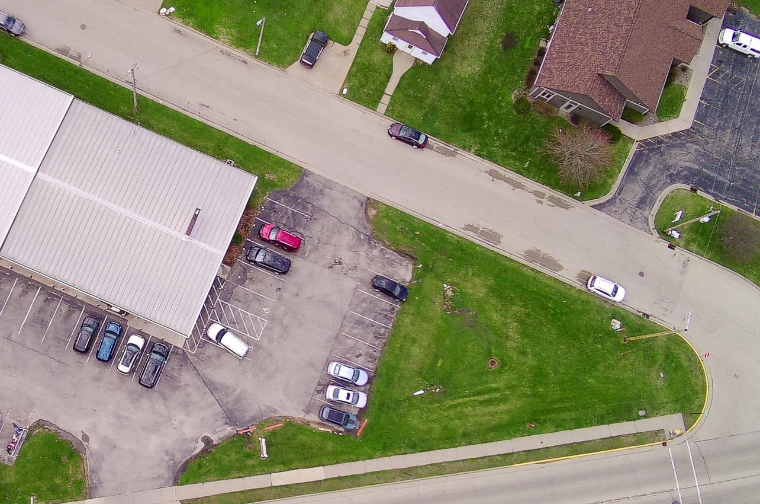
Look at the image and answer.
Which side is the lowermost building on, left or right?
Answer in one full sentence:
It is on the left.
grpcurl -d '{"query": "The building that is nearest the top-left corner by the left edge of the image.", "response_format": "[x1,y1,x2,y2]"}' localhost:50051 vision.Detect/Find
[0,64,258,340]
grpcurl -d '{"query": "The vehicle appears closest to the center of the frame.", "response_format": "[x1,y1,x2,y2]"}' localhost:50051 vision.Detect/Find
[368,272,410,304]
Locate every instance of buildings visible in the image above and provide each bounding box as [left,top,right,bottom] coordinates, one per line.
[382,0,468,64]
[0,64,258,340]
[528,0,728,123]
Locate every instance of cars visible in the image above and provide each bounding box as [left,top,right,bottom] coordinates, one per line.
[386,122,430,152]
[117,333,144,377]
[206,324,252,361]
[244,245,294,277]
[0,9,27,37]
[73,314,101,355]
[96,320,123,364]
[368,272,410,304]
[139,342,169,391]
[258,223,303,254]
[584,275,626,302]
[324,385,368,410]
[326,363,369,389]
[316,406,358,433]
[298,28,326,71]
